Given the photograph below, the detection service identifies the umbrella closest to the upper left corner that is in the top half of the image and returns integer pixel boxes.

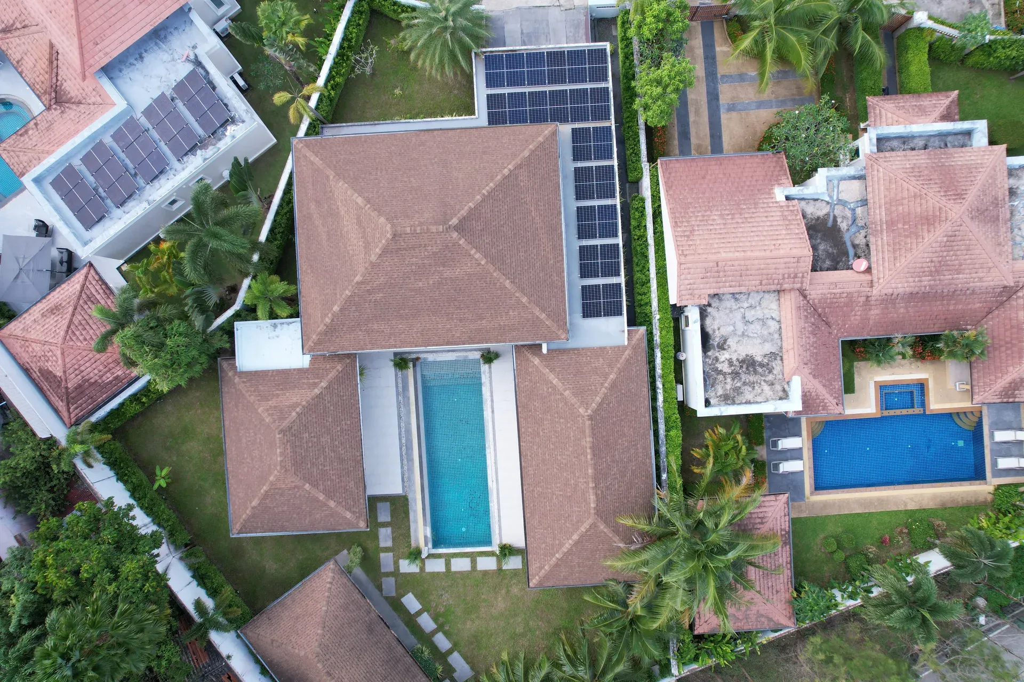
[0,234,78,305]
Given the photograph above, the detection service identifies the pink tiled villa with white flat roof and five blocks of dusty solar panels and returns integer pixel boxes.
[0,0,279,265]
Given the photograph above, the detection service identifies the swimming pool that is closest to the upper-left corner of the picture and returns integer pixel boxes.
[0,92,33,214]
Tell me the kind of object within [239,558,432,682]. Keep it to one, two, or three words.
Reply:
house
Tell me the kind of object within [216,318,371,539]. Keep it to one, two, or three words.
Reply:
house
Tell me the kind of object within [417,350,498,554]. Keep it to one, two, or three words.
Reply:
swimming pool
